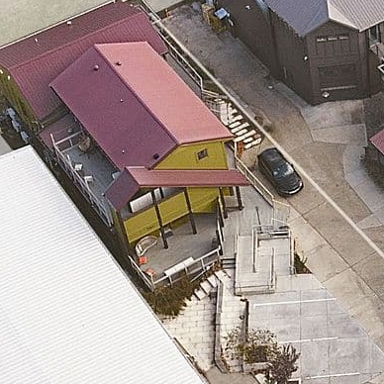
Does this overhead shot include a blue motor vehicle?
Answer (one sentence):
No, there appears to be no blue motor vehicle in this shot.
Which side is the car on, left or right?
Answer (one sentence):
The car is on the right side of the image.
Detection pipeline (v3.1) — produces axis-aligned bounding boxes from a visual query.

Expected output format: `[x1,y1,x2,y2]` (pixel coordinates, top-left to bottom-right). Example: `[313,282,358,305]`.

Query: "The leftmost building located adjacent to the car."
[0,0,252,286]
